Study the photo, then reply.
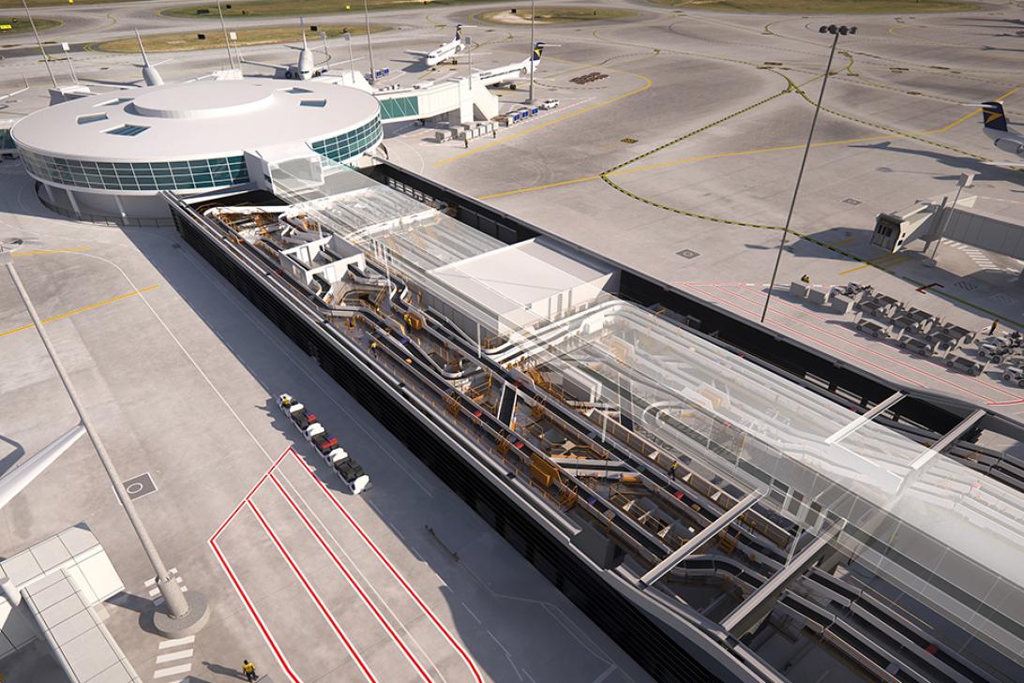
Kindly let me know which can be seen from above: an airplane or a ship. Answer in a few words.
airplane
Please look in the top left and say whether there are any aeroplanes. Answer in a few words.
Yes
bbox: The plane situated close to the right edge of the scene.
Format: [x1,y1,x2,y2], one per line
[963,94,1024,163]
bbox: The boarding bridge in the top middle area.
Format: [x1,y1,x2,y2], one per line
[376,83,465,127]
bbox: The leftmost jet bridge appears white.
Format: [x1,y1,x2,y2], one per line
[0,524,165,683]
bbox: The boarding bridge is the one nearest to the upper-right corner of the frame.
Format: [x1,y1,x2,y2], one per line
[868,176,1024,258]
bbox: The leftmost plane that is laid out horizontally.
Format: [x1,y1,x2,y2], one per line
[83,28,207,86]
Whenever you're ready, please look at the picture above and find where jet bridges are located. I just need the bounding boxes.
[868,176,1024,258]
[376,83,465,127]
[0,524,165,683]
